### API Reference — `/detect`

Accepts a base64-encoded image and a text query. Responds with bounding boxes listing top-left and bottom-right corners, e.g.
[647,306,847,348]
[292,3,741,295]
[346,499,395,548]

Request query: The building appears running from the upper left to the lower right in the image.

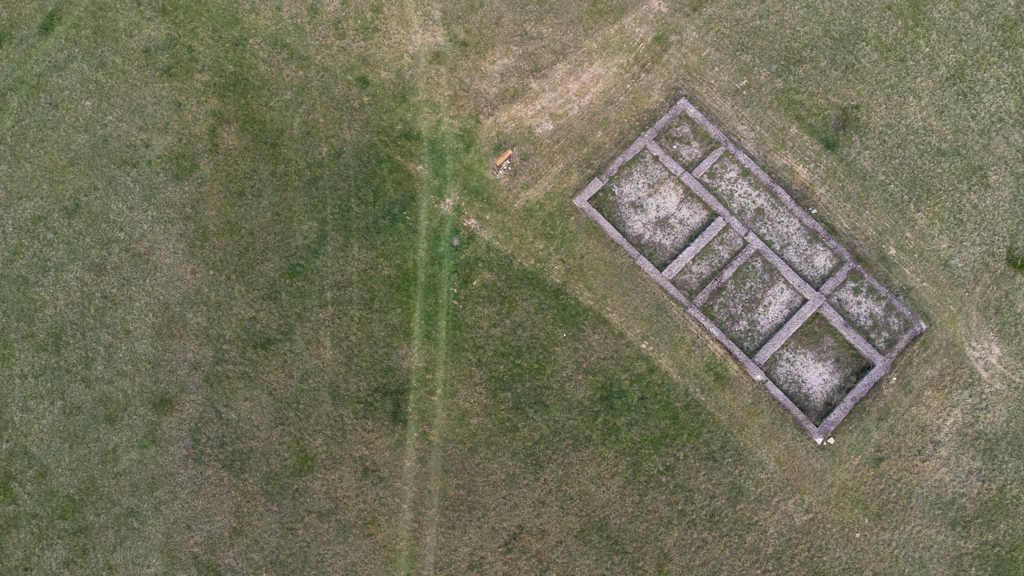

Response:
[571,95,926,445]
